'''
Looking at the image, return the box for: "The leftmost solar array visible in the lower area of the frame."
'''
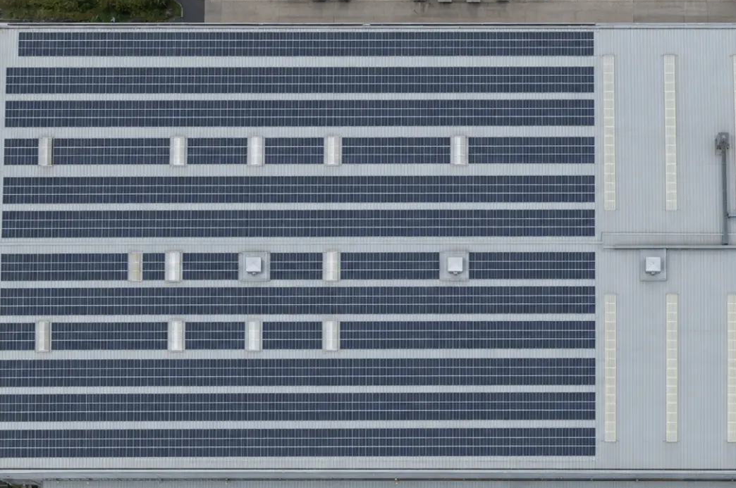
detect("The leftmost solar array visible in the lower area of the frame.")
[0,322,35,349]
